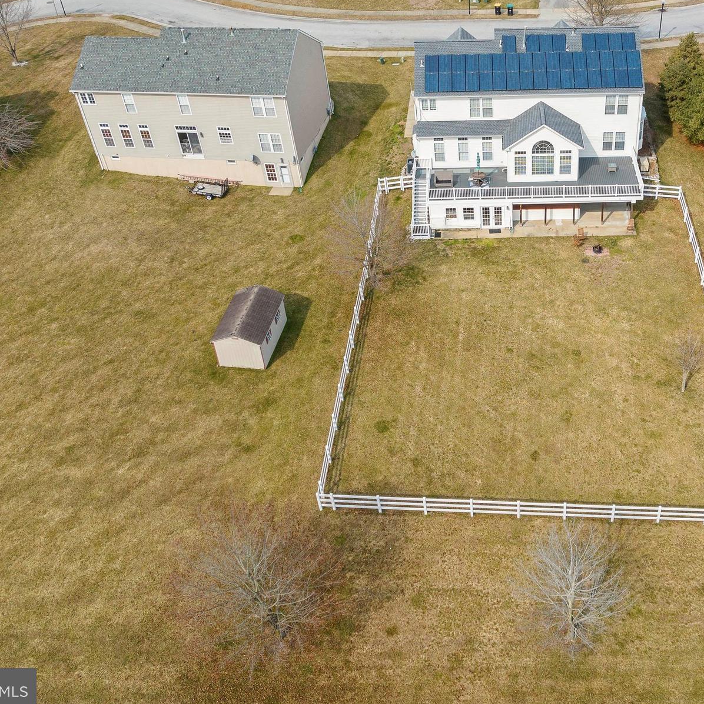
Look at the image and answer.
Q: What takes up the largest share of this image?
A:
grass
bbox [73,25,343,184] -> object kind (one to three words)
house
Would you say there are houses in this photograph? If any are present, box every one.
[411,19,645,230]
[73,25,343,184]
